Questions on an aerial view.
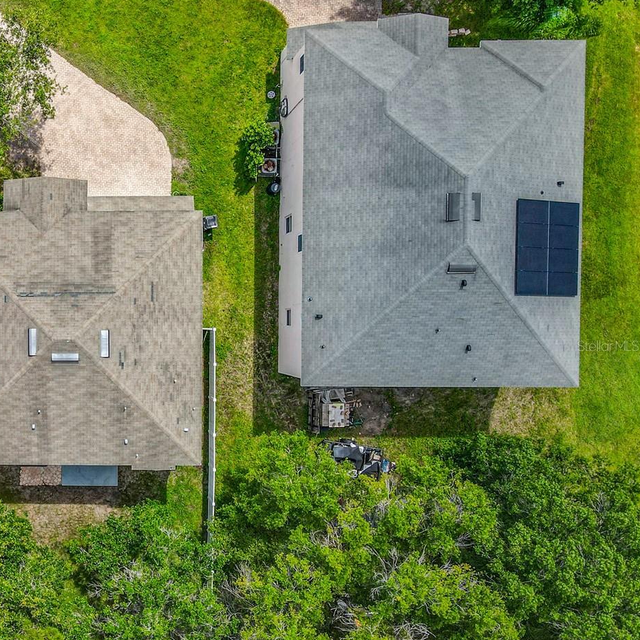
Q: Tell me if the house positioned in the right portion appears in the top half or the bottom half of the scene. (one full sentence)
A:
It is in the top half that the house positioned in the right portion appears.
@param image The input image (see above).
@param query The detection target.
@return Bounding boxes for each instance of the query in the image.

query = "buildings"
[0,176,202,470]
[280,11,583,387]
